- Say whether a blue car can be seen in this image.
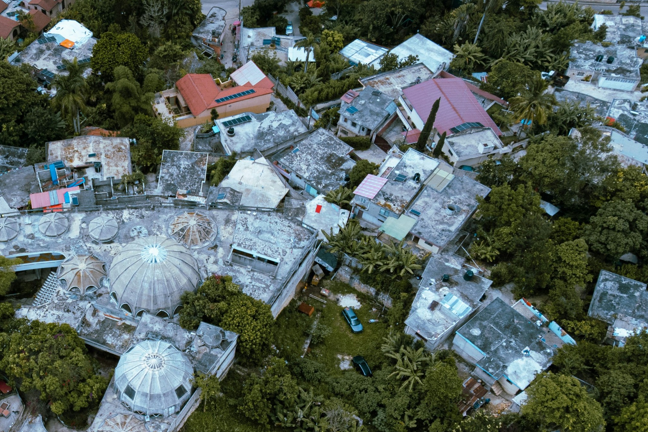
Yes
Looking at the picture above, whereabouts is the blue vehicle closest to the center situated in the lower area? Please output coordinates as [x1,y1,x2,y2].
[342,307,364,335]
